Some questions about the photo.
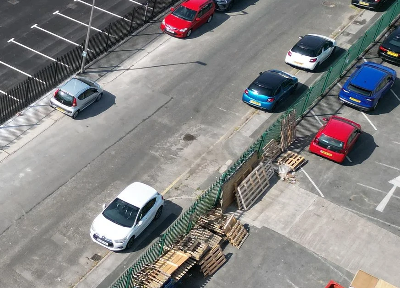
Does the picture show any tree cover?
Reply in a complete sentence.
No, the scene doesn't show any tree cover.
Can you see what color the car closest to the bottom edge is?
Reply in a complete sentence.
In this view, the car closest to the bottom edge is white.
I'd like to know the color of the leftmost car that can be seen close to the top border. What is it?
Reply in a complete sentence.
The color of the leftmost car that can be seen close to the top border is red.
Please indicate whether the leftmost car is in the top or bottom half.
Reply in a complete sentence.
The leftmost car sits in the top half of the picture.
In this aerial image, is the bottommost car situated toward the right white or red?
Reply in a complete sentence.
The color of the bottommost car situated toward the right is red.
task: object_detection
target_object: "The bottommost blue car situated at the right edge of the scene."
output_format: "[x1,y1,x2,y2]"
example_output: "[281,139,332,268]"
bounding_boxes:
[340,61,400,114]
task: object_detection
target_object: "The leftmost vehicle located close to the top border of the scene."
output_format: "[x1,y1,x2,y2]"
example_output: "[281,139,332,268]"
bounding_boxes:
[162,0,217,39]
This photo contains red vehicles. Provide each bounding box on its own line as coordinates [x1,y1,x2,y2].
[312,114,369,164]
[162,0,217,39]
